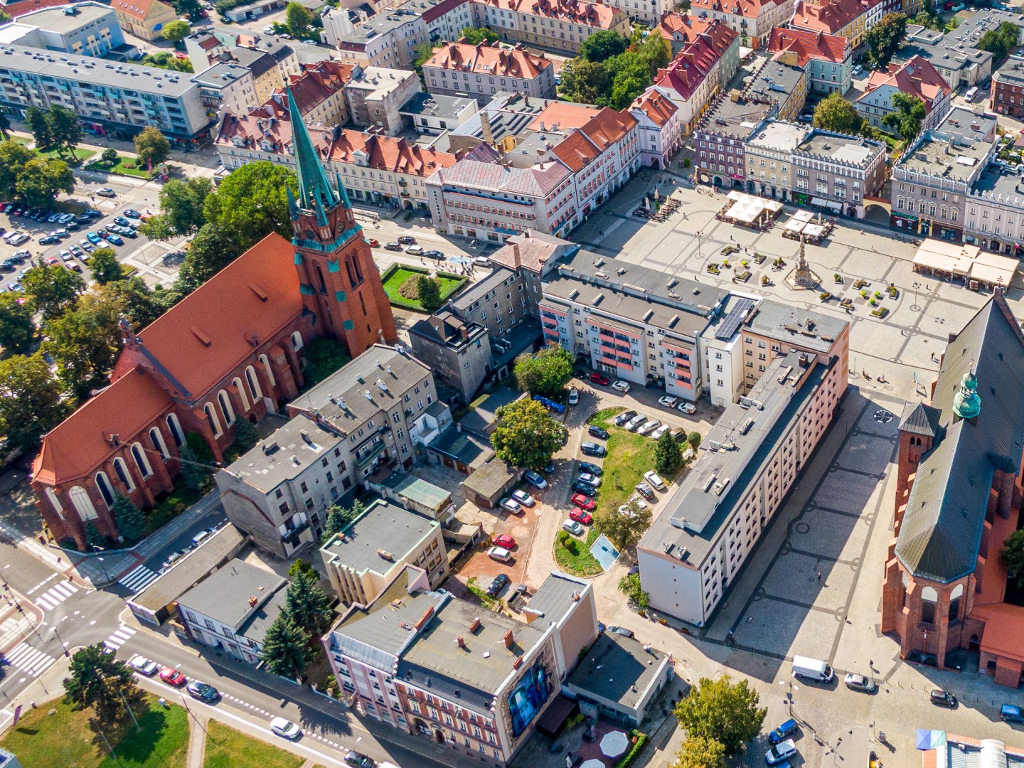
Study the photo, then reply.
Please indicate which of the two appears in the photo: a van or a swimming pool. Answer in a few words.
van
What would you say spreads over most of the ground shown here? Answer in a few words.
buildings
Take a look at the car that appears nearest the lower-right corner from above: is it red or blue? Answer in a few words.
blue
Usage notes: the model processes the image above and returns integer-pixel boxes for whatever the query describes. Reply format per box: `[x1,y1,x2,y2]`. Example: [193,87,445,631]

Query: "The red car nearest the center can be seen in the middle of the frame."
[587,372,609,385]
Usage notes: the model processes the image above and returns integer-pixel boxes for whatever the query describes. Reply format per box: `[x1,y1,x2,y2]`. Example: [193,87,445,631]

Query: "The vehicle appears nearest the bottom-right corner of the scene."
[997,702,1024,724]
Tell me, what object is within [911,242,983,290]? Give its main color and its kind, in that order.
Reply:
white tent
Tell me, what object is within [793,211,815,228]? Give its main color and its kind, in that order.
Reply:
white umbrella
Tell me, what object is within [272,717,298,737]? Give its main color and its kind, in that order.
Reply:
white car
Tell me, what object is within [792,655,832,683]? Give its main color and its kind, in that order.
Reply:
white van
